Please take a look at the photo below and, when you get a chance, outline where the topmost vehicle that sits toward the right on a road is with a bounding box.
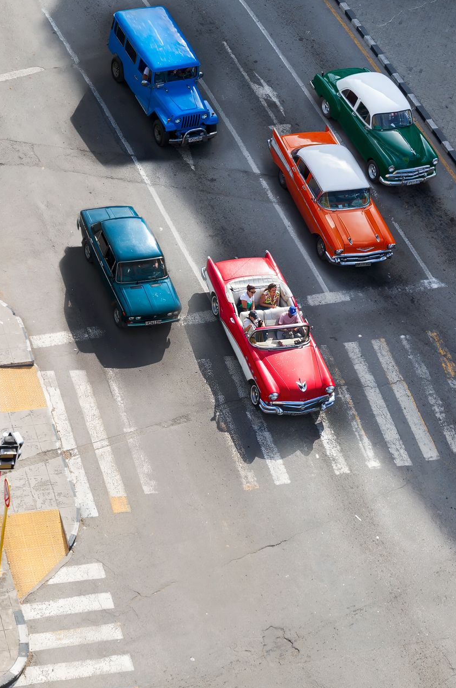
[313,73,441,188]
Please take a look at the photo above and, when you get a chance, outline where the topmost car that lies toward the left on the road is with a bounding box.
[109,8,224,146]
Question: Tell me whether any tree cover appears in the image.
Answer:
No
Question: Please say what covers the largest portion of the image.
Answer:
paved ground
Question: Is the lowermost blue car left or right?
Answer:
left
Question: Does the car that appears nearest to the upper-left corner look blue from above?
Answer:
Yes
